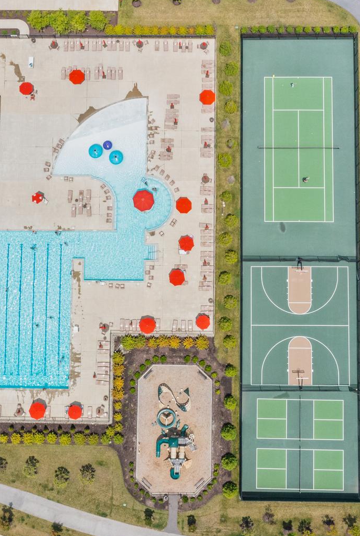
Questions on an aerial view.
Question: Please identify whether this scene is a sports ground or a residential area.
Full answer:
This image shows a sports ground.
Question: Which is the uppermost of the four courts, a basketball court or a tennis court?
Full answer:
What you see as the uppermost of the four courts is a tennis court.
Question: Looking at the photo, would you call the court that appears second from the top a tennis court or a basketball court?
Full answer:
The court that appears second from the top appears to be a basketball court.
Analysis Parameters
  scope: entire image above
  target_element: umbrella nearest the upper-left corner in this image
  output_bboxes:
[20,82,34,96]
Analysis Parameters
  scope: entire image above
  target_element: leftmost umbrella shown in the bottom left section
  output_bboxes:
[29,401,46,419]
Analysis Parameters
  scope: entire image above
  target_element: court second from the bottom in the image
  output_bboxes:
[241,391,359,445]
